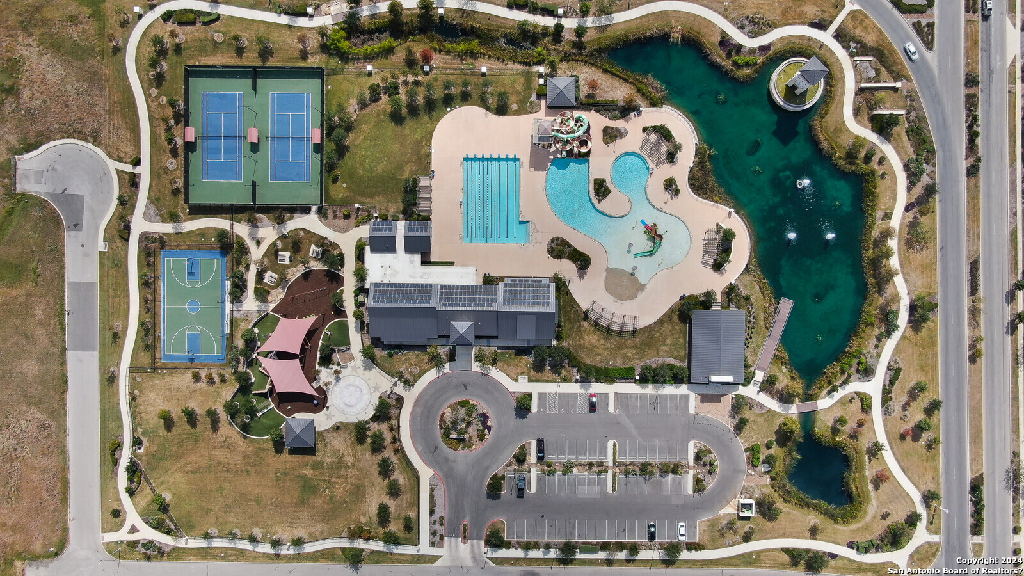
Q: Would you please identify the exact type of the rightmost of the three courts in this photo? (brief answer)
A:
tennis court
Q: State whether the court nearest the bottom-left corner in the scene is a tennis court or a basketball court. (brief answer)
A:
basketball court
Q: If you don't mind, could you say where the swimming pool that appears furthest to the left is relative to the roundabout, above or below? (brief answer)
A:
above it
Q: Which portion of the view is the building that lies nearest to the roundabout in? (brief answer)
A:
center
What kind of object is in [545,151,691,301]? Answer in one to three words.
swimming pool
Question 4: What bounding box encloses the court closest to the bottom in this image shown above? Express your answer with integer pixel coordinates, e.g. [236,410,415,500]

[161,250,226,362]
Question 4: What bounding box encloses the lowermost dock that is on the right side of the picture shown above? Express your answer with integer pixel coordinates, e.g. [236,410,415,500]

[755,297,795,375]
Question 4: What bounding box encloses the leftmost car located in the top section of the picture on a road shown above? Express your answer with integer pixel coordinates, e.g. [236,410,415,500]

[903,42,918,61]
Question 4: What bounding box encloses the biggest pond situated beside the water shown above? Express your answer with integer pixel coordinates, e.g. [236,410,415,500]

[613,39,866,418]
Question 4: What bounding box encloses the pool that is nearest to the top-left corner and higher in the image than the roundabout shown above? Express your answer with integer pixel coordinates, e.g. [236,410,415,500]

[460,154,531,244]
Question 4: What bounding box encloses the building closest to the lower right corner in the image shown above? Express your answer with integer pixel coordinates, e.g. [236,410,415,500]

[687,310,745,394]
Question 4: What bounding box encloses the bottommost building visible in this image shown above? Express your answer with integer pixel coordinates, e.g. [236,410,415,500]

[286,417,316,447]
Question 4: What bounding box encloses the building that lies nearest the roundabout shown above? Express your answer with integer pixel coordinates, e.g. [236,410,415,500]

[364,221,558,371]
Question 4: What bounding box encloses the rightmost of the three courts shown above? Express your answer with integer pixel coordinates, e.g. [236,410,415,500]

[254,69,318,203]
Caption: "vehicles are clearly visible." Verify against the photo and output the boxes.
[647,521,656,539]
[517,473,524,496]
[903,42,918,61]
[537,438,544,459]
[982,0,993,19]
[677,522,686,540]
[589,394,597,411]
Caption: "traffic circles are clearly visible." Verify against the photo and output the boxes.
[410,371,518,478]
